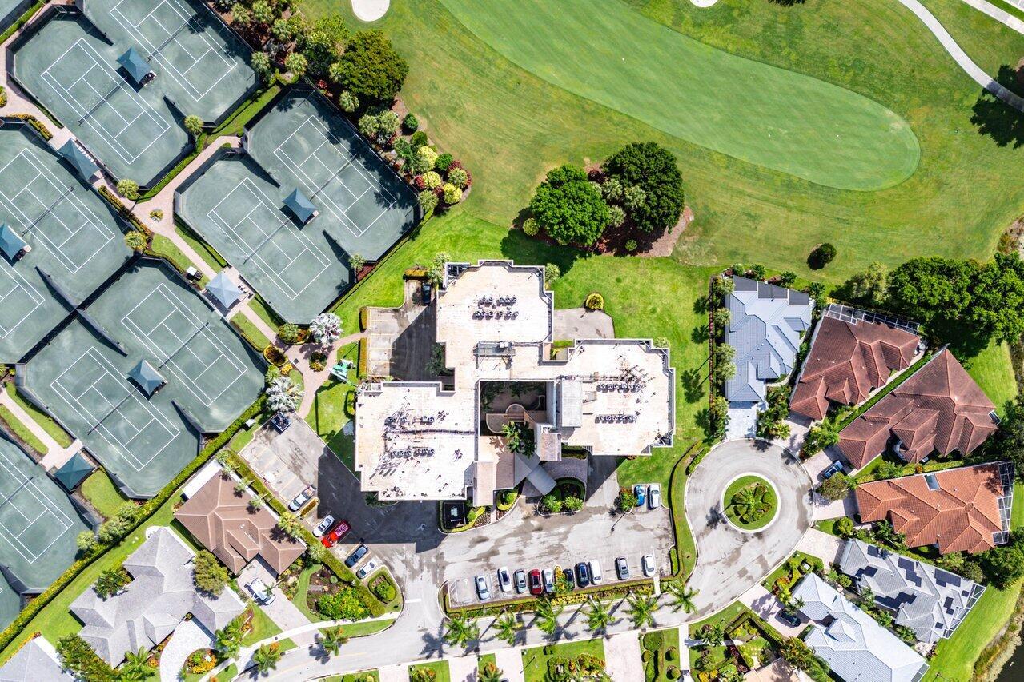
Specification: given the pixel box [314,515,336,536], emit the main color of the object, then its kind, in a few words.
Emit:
white car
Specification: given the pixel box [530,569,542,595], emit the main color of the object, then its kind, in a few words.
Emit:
red vehicle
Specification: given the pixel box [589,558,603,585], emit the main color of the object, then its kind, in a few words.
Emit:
white vehicle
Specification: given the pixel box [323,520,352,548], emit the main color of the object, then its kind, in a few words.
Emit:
red truck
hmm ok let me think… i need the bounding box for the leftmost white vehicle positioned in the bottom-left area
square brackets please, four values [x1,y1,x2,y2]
[243,576,273,603]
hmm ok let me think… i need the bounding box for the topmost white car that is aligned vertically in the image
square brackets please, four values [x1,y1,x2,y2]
[648,483,660,508]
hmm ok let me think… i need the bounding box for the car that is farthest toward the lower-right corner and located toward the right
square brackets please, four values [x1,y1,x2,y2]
[776,607,802,628]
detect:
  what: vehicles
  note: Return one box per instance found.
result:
[357,558,379,577]
[543,568,555,593]
[476,574,491,600]
[575,561,589,588]
[314,515,336,536]
[323,520,352,548]
[514,569,526,593]
[648,483,660,508]
[243,576,273,603]
[776,607,802,628]
[821,458,846,479]
[185,267,201,279]
[634,484,645,508]
[562,563,575,590]
[589,558,603,585]
[530,569,542,595]
[289,487,316,511]
[497,566,513,593]
[643,553,655,577]
[616,556,628,580]
[421,281,432,306]
[346,544,369,567]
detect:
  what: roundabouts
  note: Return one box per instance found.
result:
[721,473,781,533]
